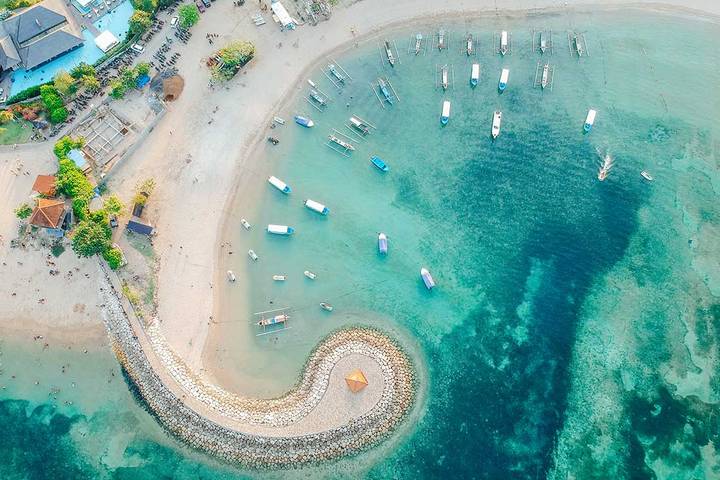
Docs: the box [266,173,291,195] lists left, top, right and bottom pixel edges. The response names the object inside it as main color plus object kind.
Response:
white boat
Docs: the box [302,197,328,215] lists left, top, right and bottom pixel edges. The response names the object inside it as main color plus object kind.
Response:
white boat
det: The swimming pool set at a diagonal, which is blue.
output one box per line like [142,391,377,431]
[9,0,135,97]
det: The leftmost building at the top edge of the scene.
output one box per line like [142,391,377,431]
[0,0,87,78]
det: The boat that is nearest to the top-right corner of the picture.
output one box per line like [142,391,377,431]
[567,34,589,57]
